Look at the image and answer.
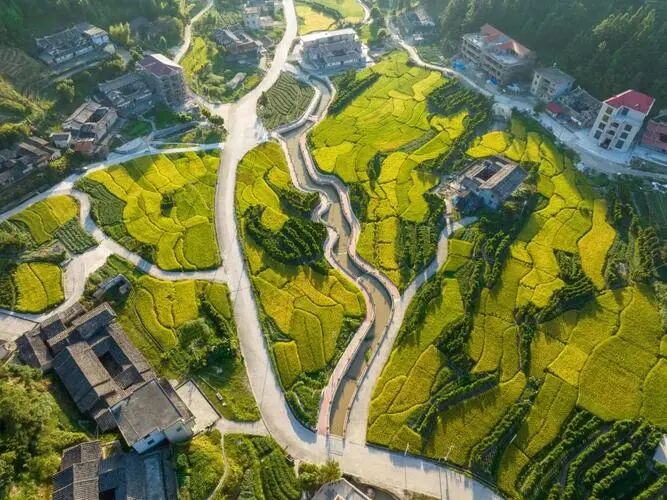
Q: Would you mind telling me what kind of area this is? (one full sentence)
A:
This looks like a residential area.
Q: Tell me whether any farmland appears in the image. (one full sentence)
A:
Yes, some farmland is visible.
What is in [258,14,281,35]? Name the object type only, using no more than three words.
shed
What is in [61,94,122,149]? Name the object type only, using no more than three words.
house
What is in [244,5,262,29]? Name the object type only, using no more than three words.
house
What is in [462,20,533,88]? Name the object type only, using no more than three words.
building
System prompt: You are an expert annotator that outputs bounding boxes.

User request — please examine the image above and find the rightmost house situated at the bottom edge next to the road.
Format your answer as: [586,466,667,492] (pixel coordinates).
[313,470,370,500]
